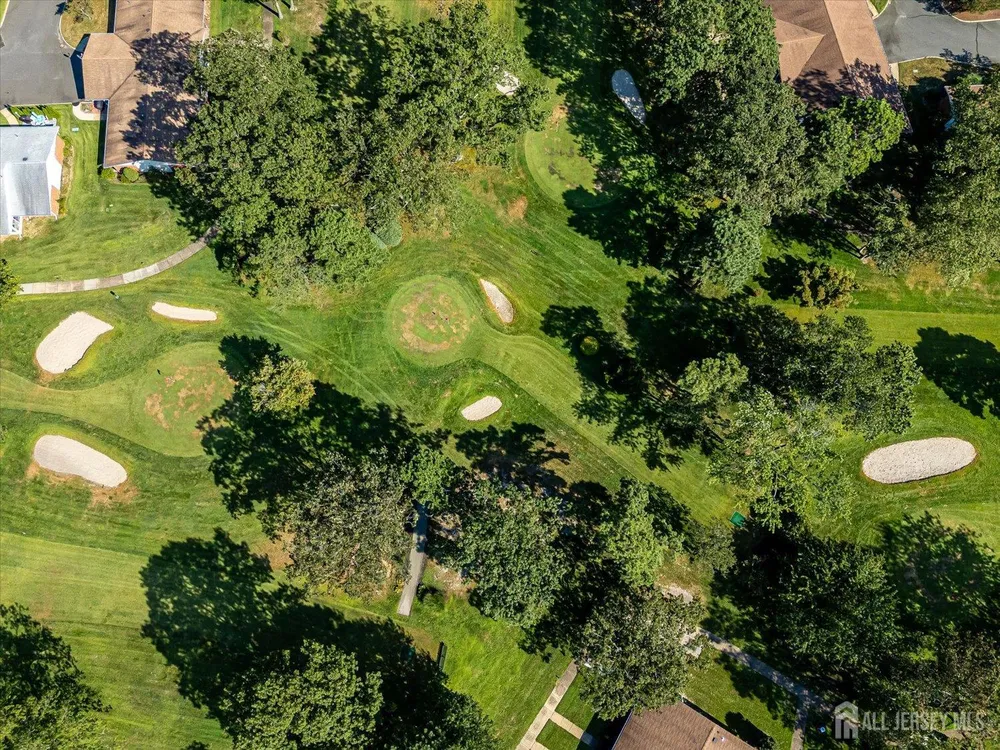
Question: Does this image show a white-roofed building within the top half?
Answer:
Yes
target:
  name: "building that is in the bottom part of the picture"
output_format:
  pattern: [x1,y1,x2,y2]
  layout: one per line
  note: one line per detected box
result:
[607,675,779,750]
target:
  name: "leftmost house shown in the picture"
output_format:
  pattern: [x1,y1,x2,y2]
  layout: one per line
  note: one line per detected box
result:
[0,123,67,238]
